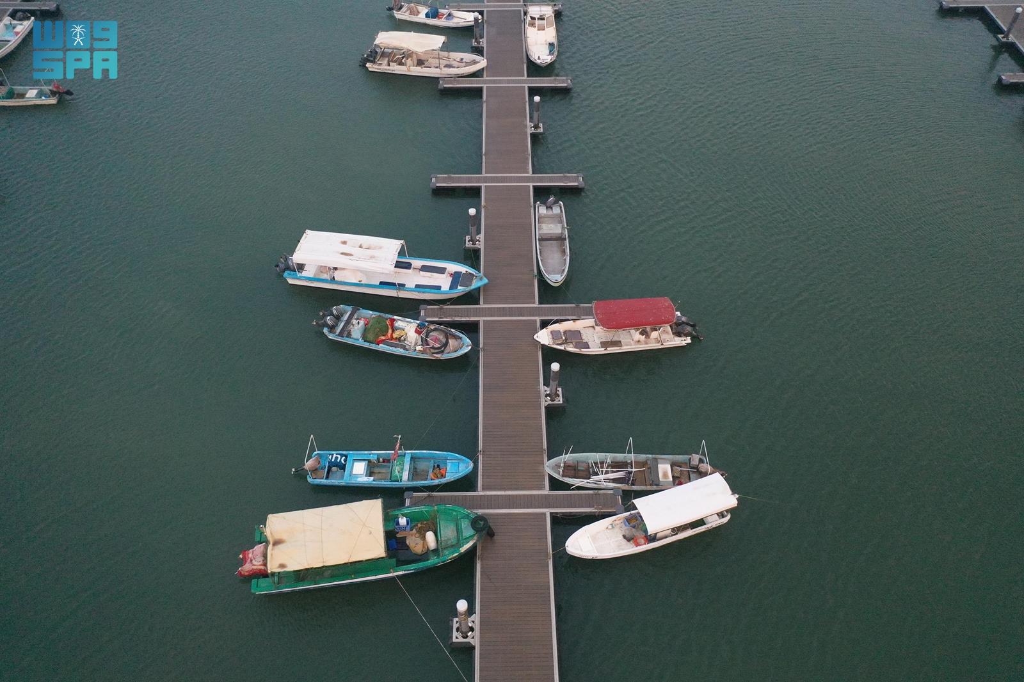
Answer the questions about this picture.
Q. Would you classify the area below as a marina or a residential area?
marina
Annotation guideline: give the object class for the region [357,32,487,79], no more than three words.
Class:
boat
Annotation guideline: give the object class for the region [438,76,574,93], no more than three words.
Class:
pier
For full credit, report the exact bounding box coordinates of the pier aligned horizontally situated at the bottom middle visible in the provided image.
[403,489,624,516]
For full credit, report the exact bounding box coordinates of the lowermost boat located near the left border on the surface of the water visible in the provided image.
[0,66,74,109]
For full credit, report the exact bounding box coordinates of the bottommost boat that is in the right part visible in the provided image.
[564,475,743,557]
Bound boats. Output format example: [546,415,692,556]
[386,0,485,31]
[564,475,743,557]
[536,195,571,286]
[524,0,558,69]
[291,436,474,487]
[0,66,74,109]
[233,498,485,599]
[269,231,492,302]
[0,6,36,68]
[533,292,708,354]
[357,32,487,79]
[309,307,472,360]
[545,437,731,491]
